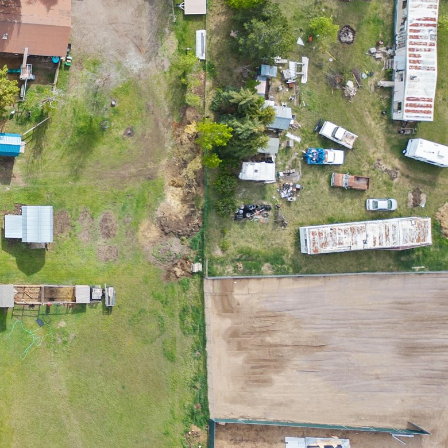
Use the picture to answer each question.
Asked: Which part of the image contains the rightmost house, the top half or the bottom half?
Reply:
top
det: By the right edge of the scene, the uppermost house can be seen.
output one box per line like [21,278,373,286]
[370,0,438,136]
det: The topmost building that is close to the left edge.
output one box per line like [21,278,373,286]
[0,0,71,59]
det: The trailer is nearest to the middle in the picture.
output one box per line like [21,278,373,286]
[233,164,273,183]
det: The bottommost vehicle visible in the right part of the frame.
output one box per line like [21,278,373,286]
[364,196,397,213]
